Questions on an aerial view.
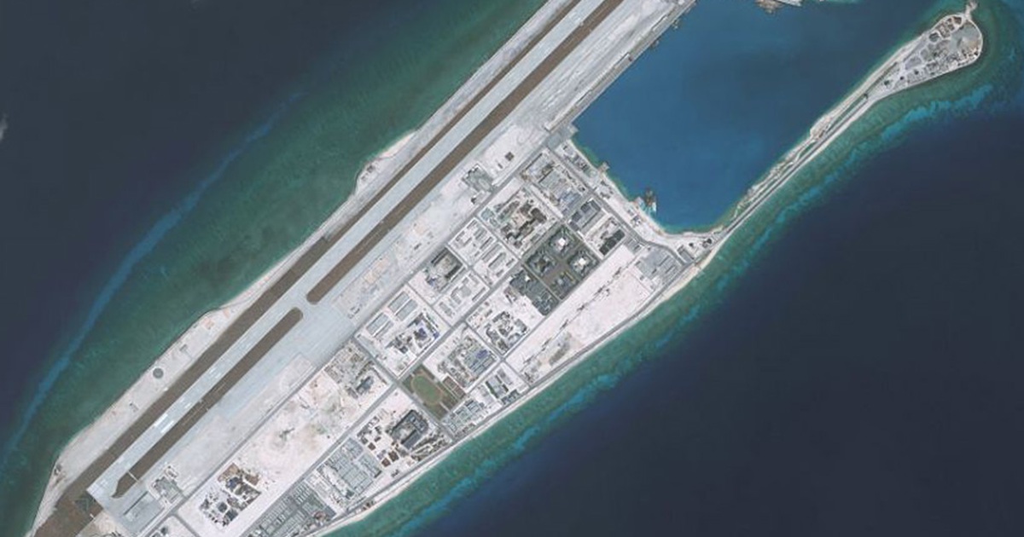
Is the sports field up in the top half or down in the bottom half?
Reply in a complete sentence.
The bottom half of the photo is where the sports field is.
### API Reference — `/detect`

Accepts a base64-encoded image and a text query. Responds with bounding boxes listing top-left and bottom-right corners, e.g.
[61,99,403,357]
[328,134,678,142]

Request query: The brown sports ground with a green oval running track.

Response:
[403,365,464,419]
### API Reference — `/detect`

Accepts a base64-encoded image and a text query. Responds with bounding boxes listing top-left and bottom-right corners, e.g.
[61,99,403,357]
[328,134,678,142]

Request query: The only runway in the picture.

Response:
[87,0,603,505]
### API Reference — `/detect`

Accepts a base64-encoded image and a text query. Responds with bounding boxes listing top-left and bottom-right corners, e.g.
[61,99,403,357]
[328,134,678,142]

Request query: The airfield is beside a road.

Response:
[34,0,635,537]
